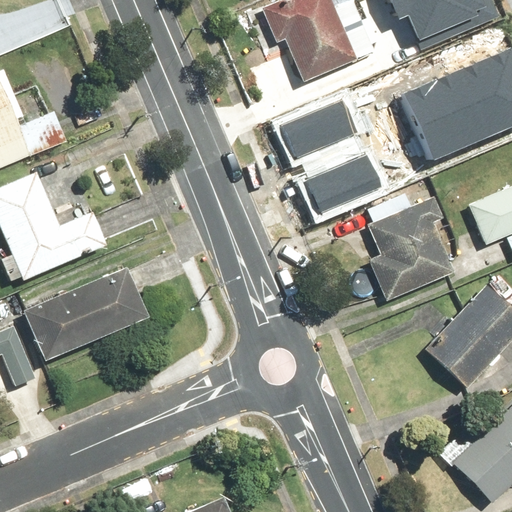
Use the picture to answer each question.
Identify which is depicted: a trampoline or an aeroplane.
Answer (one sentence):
The image shows a trampoline.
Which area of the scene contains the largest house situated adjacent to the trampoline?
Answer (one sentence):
The largest house situated adjacent to the trampoline is in the right part of the image.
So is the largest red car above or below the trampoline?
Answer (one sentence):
Looking at the photo, you'll find the largest red car above the trampoline.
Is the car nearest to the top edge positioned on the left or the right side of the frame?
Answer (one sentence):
The car nearest to the top edge is on the right side of the image.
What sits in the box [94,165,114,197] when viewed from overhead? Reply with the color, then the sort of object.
white car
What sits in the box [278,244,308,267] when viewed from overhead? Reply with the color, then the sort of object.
white vehicle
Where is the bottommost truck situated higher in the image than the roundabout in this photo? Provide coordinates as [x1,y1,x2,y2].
[278,266,300,300]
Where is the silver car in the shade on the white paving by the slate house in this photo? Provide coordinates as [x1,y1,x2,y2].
[391,44,420,64]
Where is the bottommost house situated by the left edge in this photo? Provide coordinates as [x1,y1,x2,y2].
[0,326,35,388]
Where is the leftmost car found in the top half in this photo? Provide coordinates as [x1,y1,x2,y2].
[29,160,58,178]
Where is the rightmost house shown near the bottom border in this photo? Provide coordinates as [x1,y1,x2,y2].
[454,407,512,502]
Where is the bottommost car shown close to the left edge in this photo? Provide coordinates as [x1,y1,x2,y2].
[0,449,28,470]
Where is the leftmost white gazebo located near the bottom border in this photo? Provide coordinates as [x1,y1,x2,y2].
[126,479,152,498]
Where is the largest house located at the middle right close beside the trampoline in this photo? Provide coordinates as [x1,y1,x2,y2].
[368,197,454,302]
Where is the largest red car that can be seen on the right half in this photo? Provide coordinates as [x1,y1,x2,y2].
[332,216,365,237]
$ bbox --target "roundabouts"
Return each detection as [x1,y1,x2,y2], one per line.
[259,348,296,384]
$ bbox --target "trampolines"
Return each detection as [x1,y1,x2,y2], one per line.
[349,272,373,296]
